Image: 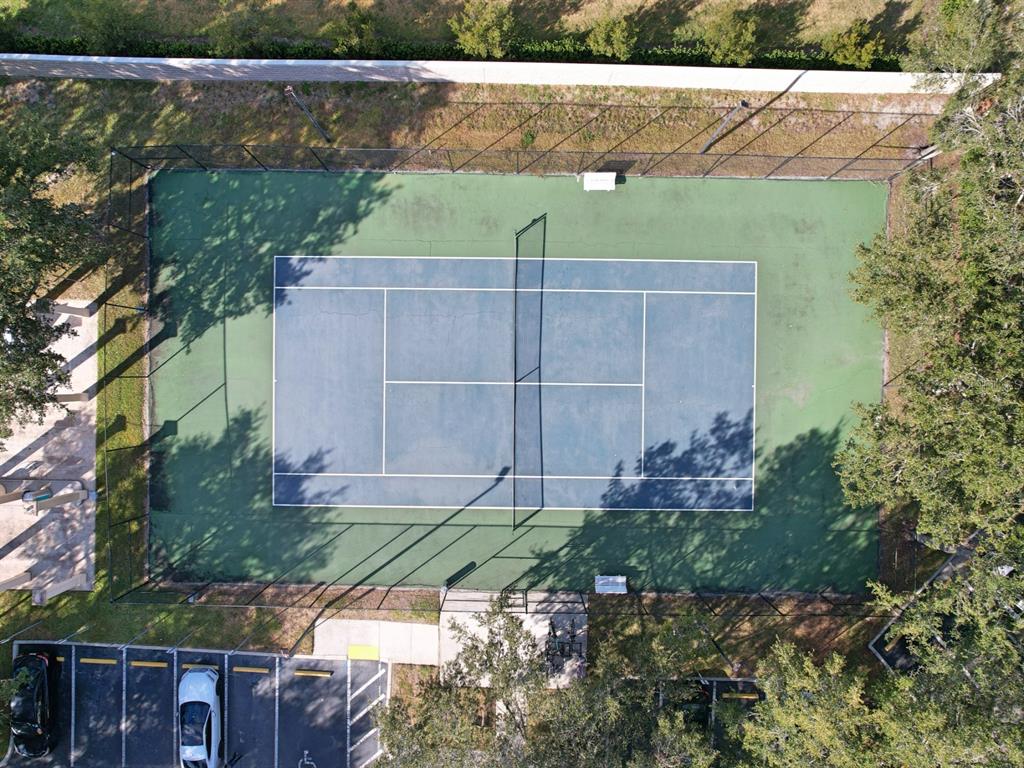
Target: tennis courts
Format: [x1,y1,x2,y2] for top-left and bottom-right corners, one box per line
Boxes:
[145,166,891,600]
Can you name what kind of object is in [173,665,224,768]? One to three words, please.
car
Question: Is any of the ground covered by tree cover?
Yes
